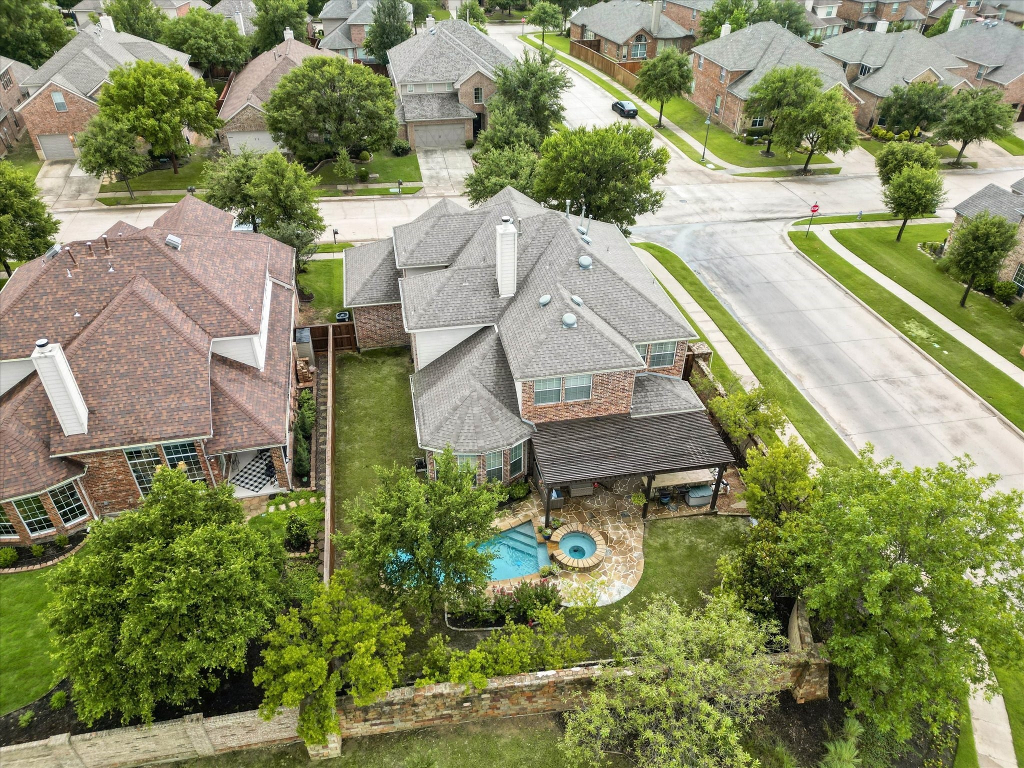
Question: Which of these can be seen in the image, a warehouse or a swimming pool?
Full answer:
I can see a swimming pool in this picture.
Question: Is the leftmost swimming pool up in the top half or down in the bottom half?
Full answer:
The leftmost swimming pool is in the bottom half of the image.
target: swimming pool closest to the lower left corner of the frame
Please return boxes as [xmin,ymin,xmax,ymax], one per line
[376,511,552,592]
